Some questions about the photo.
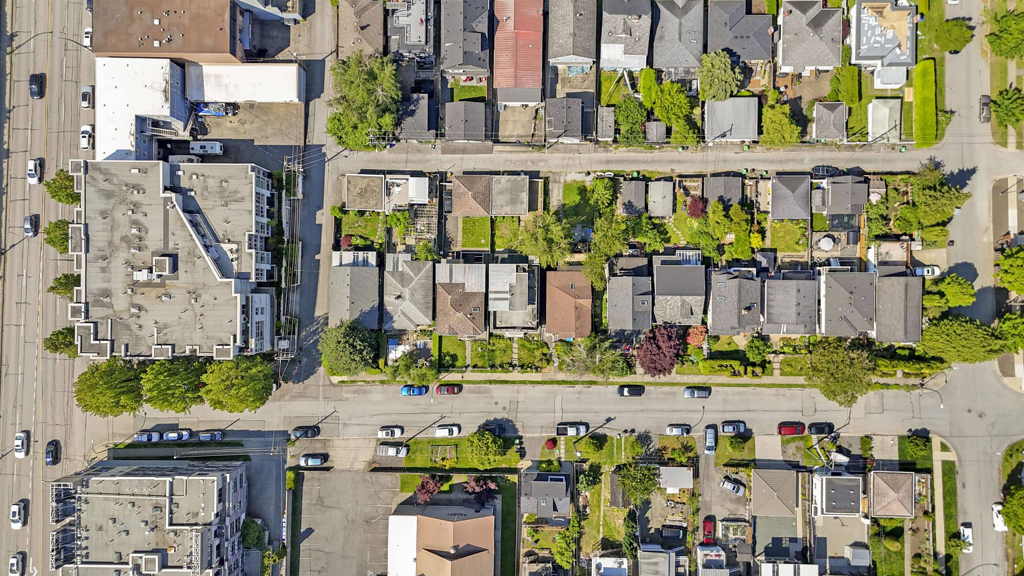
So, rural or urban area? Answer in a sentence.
This place is urban.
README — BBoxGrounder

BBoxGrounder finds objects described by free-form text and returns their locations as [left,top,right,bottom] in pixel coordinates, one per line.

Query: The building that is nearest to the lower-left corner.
[50,457,250,576]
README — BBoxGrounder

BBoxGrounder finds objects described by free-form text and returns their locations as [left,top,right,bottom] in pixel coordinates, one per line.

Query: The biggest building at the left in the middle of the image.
[68,159,280,360]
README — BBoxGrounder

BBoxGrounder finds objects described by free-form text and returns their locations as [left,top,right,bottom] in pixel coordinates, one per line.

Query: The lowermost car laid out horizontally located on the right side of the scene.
[659,525,688,539]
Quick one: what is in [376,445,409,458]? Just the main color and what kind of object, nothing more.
white vehicle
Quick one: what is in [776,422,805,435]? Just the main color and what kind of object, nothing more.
red vehicle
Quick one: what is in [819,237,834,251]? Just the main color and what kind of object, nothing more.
white umbrella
